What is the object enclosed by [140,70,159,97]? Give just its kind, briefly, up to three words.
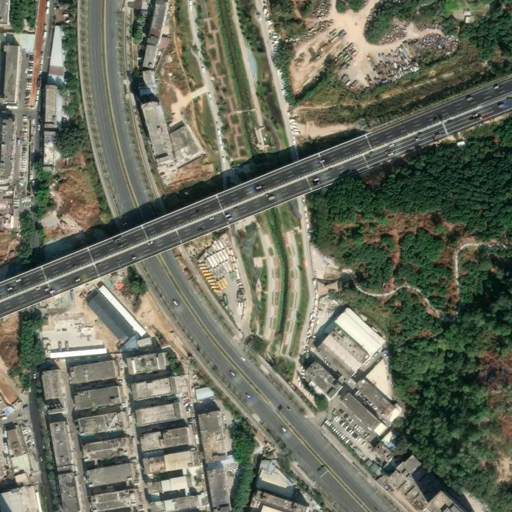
shed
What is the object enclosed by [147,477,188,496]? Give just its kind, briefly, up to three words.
building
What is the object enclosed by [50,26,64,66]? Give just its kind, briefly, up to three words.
shed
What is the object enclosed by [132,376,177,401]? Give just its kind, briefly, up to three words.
building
